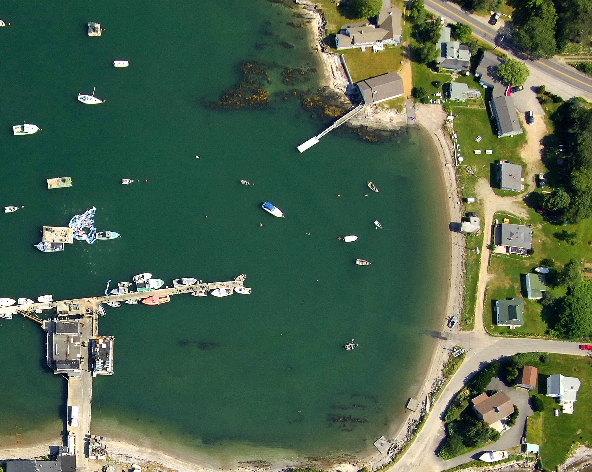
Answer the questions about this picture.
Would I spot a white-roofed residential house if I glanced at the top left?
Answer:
No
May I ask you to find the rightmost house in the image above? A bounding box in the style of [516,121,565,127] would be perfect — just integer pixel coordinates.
[543,374,581,414]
